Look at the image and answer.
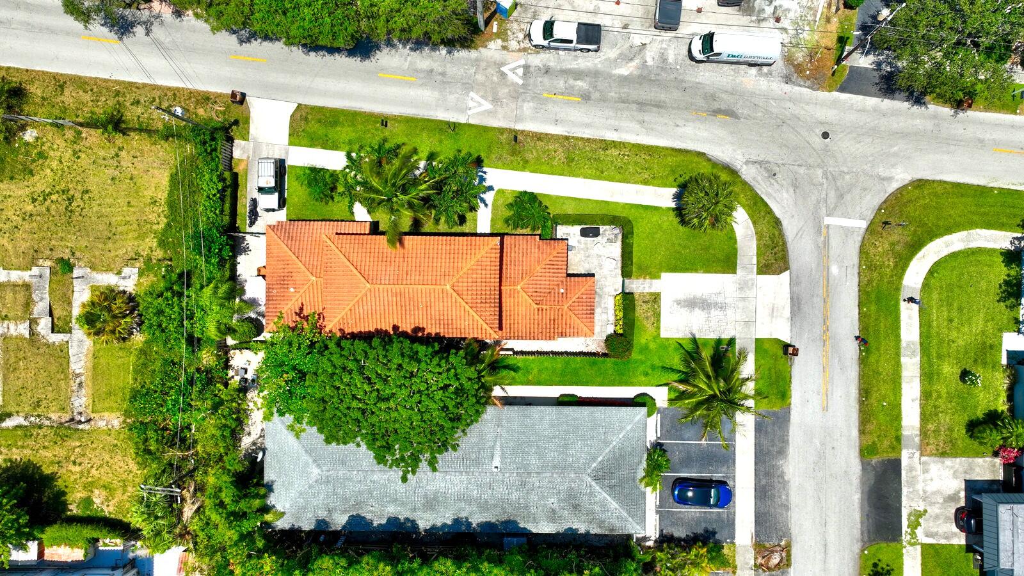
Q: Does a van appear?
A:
Yes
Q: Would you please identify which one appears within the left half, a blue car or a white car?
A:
white car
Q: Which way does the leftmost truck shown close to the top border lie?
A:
from left to right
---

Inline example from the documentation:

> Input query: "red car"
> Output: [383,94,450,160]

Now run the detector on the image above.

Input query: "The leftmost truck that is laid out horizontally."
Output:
[525,14,603,52]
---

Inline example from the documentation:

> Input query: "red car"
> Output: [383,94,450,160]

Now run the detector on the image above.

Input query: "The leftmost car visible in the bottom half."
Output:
[671,478,733,511]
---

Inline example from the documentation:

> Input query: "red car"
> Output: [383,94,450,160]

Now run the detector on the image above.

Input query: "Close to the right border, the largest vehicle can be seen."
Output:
[949,507,981,535]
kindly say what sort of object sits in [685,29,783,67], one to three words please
van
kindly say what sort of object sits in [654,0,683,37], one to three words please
truck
